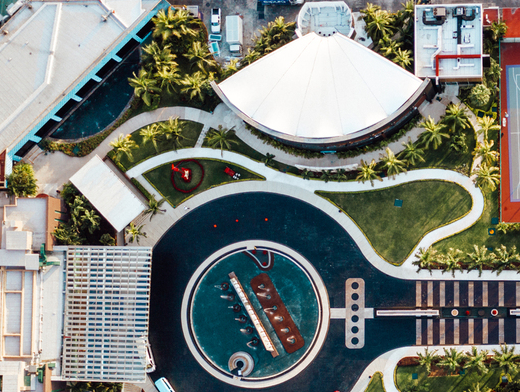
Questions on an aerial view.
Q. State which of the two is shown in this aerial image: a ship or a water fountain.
water fountain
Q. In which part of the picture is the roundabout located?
bottom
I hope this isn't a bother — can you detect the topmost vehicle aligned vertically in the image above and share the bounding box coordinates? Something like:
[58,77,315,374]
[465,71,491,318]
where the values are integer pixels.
[209,7,221,33]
